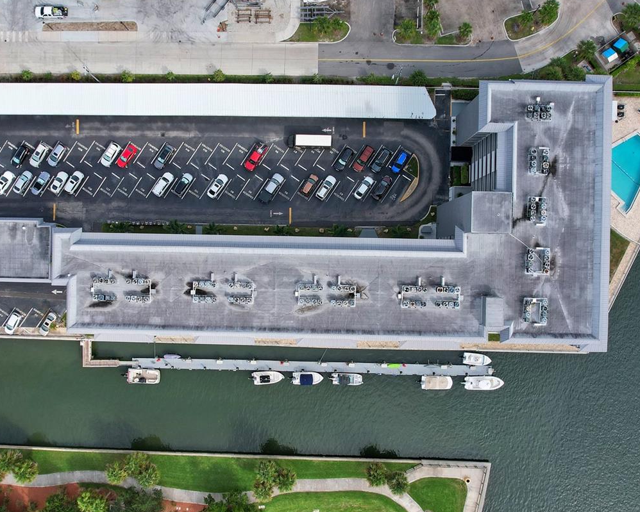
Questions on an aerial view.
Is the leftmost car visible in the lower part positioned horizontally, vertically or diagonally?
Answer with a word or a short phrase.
diagonally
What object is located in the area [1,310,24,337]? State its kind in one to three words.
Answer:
car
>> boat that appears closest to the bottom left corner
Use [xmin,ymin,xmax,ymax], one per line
[123,370,160,384]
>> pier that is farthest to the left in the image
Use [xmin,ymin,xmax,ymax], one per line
[79,342,119,368]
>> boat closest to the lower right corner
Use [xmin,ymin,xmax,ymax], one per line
[462,377,504,391]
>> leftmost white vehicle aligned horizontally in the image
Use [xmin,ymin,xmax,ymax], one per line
[33,4,68,19]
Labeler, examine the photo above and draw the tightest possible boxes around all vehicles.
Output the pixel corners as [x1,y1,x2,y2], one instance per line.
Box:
[207,173,227,199]
[283,133,332,149]
[150,170,174,199]
[373,175,393,201]
[1,310,24,337]
[61,169,84,196]
[334,144,354,171]
[354,174,375,201]
[29,140,51,167]
[37,311,58,337]
[153,142,174,169]
[9,140,32,167]
[30,170,51,196]
[353,143,376,171]
[46,140,68,167]
[117,142,137,168]
[371,144,394,173]
[258,172,283,204]
[47,170,68,196]
[100,140,122,168]
[33,4,68,19]
[315,174,337,201]
[171,171,193,198]
[11,169,33,195]
[0,169,15,196]
[299,173,318,197]
[391,147,412,174]
[244,139,269,171]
